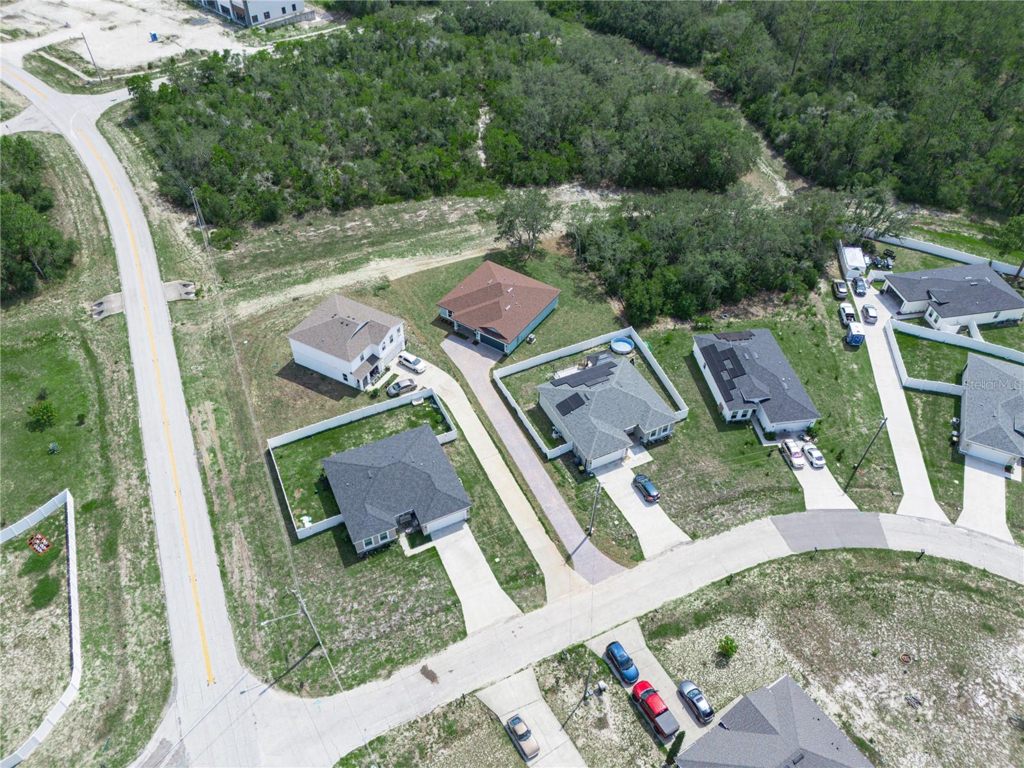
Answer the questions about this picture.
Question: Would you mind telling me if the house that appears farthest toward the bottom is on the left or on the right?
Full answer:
The house that appears farthest toward the bottom sits on the right side.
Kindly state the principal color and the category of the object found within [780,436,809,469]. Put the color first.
white car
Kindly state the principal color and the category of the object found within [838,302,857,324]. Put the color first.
white vehicle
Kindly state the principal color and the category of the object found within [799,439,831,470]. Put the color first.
white car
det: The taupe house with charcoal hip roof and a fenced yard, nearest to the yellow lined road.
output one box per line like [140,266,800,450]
[323,424,472,552]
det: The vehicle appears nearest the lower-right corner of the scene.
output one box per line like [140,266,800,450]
[676,677,717,727]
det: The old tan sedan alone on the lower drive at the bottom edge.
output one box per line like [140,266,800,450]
[502,709,542,767]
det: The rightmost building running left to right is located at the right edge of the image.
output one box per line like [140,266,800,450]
[881,264,1024,330]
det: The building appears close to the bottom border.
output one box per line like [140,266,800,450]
[675,670,875,768]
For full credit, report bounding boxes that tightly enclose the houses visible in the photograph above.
[437,261,563,355]
[675,670,875,768]
[881,264,1024,330]
[691,329,822,433]
[194,0,303,26]
[323,424,472,552]
[535,356,679,471]
[959,352,1024,468]
[286,295,405,392]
